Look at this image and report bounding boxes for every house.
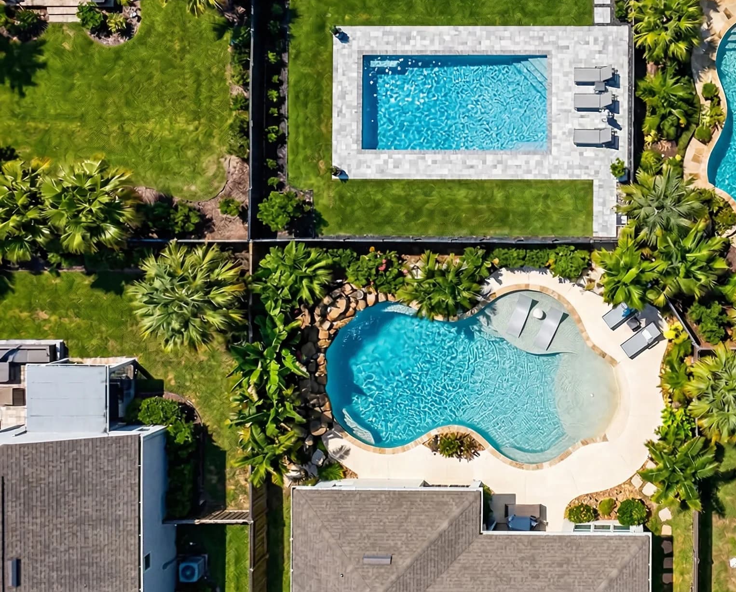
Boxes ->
[0,426,166,592]
[291,478,653,592]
